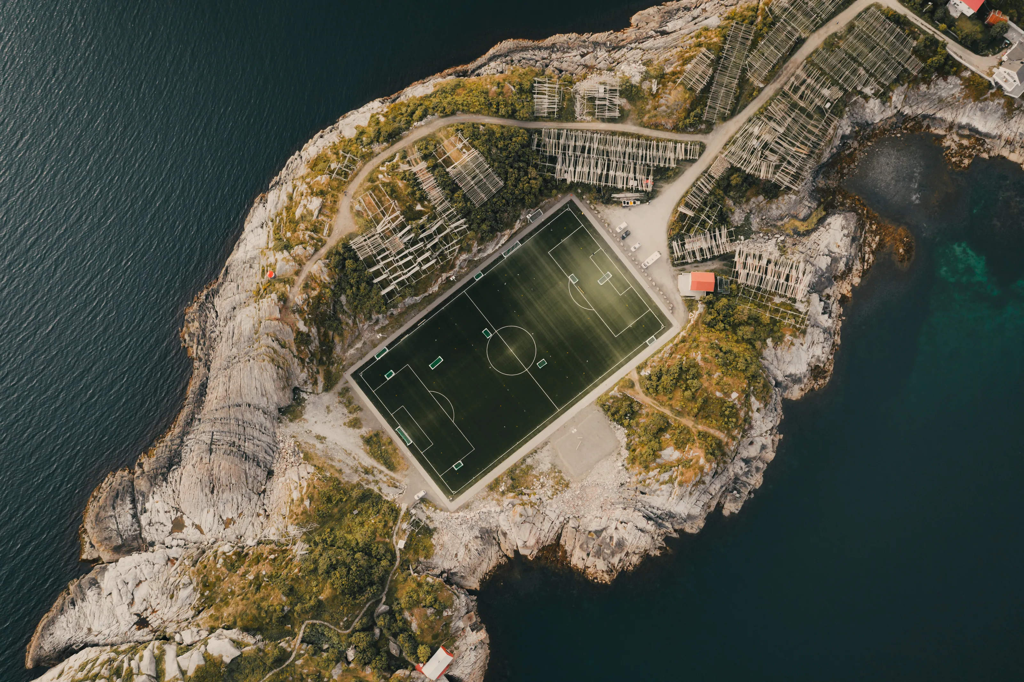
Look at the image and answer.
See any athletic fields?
Yes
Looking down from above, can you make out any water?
Yes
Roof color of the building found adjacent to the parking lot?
red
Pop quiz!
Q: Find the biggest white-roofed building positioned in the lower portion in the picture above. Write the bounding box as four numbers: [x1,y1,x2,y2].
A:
[422,645,453,680]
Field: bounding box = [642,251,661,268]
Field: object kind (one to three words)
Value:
vehicle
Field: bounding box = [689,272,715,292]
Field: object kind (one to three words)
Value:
building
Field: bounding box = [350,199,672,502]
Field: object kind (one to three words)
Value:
sports field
